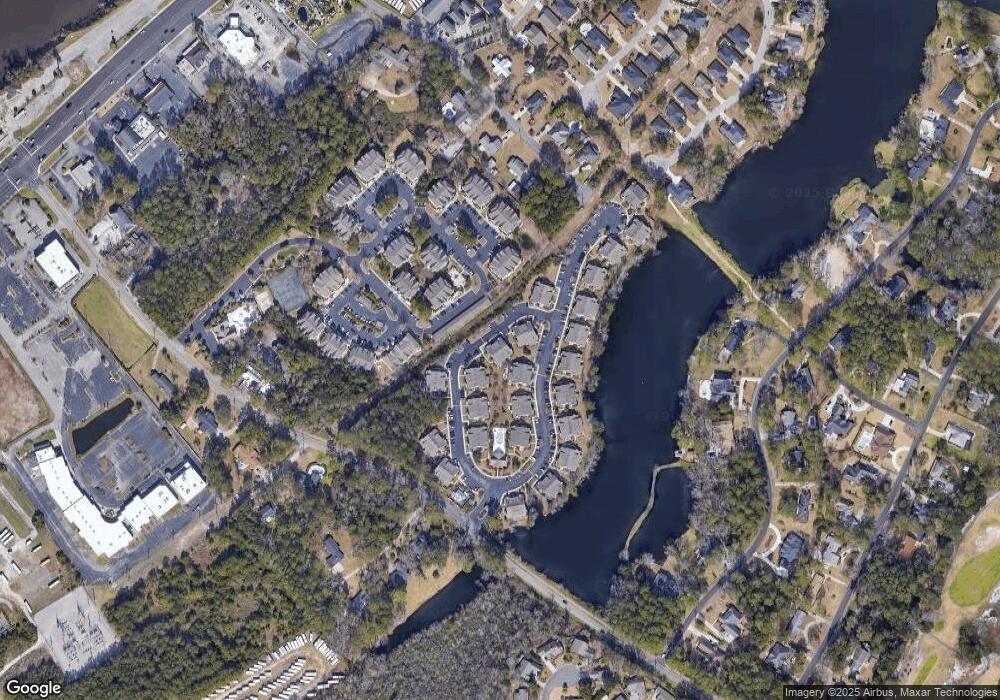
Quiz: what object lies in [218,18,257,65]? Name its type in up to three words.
building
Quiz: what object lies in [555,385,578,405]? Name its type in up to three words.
house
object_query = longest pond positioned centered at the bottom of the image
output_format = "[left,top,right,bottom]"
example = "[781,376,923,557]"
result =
[373,567,484,655]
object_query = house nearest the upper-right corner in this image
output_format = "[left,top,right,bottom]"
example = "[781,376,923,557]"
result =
[953,50,978,68]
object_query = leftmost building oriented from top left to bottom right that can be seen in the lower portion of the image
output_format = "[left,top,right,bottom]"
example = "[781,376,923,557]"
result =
[31,446,134,557]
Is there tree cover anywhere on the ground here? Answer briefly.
Yes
